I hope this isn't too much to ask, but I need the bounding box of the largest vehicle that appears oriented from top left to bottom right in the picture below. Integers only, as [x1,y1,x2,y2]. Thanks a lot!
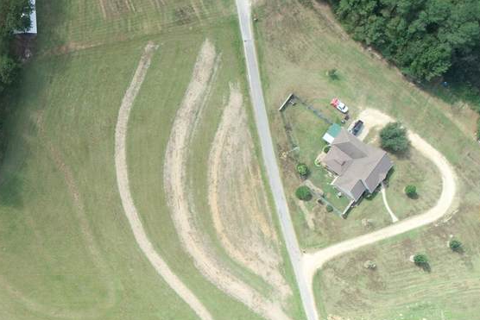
[330,97,349,113]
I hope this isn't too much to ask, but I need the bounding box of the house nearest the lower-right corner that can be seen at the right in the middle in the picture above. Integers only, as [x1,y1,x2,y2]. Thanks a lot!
[316,126,394,203]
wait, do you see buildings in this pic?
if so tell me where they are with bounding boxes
[17,0,36,33]
[316,126,394,203]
